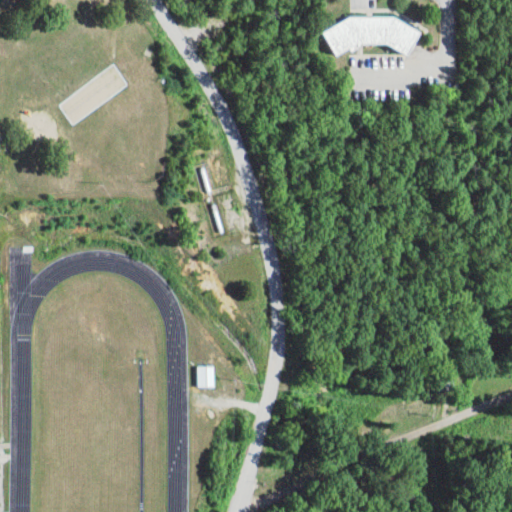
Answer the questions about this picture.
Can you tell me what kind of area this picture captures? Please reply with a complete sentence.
This looks like a sports ground.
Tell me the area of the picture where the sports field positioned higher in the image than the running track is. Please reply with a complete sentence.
The sports field positioned higher in the image than the running track is located in the top left region of the scene.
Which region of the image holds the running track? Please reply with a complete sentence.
Look in the bottom left portion of the view to spot the running track.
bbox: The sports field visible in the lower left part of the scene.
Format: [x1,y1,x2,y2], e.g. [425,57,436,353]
[32,272,168,512]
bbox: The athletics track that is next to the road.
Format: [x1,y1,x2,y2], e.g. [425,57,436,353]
[10,248,189,512]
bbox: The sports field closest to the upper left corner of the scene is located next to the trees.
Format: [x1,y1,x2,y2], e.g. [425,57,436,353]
[0,24,167,194]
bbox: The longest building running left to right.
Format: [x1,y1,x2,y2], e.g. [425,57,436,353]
[322,15,423,58]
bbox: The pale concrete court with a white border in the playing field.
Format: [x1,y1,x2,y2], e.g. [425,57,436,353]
[60,64,127,126]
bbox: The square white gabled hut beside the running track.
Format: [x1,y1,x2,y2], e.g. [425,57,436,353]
[194,366,214,389]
